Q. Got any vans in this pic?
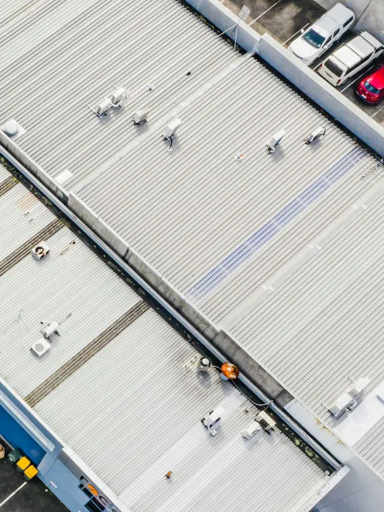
Yes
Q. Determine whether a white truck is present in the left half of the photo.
No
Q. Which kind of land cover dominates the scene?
buildings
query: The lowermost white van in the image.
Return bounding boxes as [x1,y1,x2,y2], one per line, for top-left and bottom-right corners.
[320,34,377,84]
